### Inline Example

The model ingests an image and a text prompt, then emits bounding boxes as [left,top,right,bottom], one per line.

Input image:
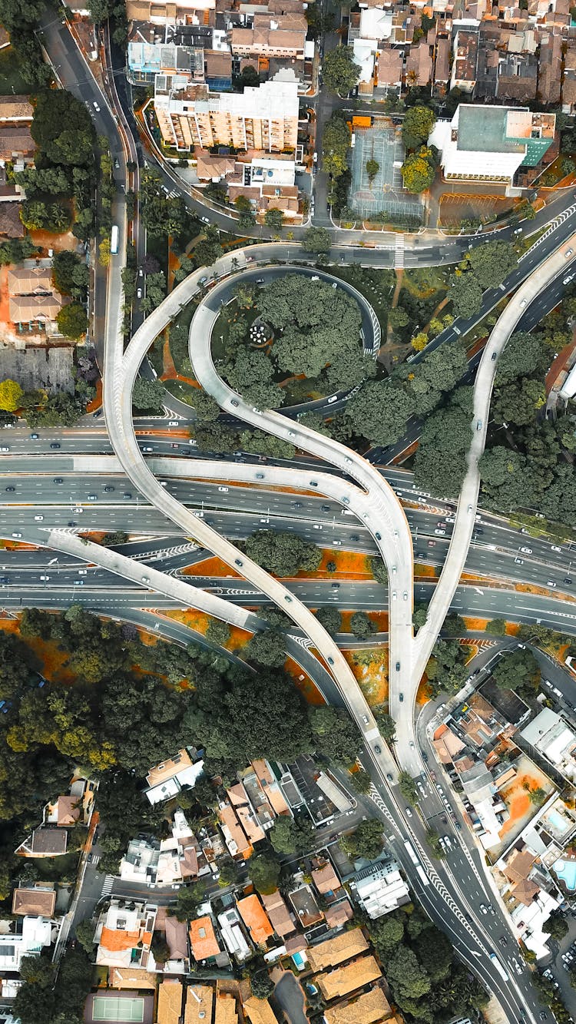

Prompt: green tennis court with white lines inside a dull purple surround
[87,987,154,1024]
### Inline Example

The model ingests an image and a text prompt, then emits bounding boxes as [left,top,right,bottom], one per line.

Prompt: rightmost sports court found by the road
[348,126,423,217]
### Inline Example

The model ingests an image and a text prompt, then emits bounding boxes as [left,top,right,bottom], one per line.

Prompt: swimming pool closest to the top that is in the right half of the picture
[549,812,569,831]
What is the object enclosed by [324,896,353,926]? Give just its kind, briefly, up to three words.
house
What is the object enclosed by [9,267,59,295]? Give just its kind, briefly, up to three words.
building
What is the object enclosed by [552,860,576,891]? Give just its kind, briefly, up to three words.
swimming pool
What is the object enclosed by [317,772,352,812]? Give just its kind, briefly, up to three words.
shed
